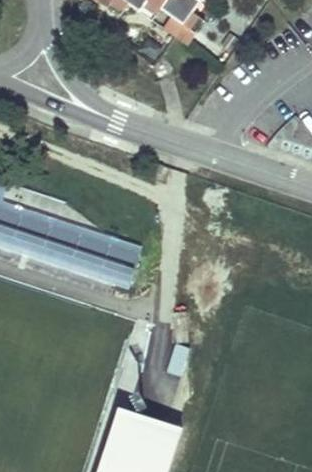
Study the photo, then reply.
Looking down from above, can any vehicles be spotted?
Yes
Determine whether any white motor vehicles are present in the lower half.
No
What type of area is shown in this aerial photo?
sports ground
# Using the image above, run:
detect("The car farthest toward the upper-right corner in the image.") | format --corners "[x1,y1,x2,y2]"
[294,18,312,40]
